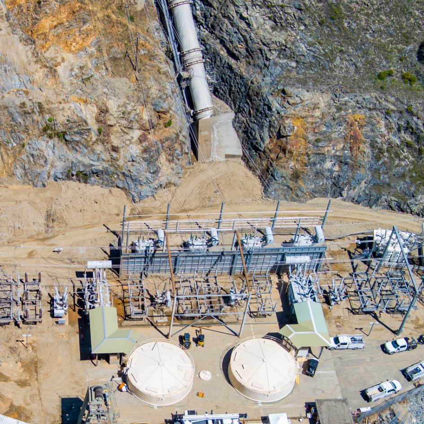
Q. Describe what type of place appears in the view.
industrial area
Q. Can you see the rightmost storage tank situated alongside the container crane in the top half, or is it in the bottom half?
bottom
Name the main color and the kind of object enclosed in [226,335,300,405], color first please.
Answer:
white storage tank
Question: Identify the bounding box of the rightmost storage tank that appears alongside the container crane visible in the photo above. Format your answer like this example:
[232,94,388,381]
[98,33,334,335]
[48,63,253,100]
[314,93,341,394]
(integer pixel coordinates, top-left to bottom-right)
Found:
[124,339,195,409]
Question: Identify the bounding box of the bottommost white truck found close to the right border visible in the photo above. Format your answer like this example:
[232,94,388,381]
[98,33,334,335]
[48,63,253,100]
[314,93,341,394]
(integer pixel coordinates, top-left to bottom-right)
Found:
[364,380,404,402]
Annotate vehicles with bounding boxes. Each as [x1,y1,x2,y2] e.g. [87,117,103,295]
[364,380,404,402]
[181,335,192,350]
[196,330,205,349]
[383,338,420,356]
[403,360,424,380]
[329,333,368,350]
[307,357,319,376]
[172,407,249,424]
